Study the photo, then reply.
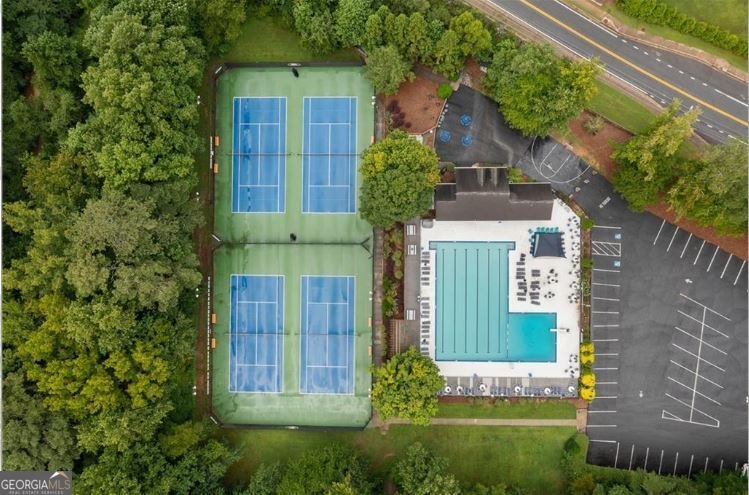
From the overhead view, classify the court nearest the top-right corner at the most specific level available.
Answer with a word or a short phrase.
basketball court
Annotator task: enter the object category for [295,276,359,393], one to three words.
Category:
tennis court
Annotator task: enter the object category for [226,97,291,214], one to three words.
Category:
tennis court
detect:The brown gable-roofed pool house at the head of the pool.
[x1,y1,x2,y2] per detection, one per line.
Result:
[436,167,555,222]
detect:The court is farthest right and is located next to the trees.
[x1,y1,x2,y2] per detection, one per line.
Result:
[516,130,598,196]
